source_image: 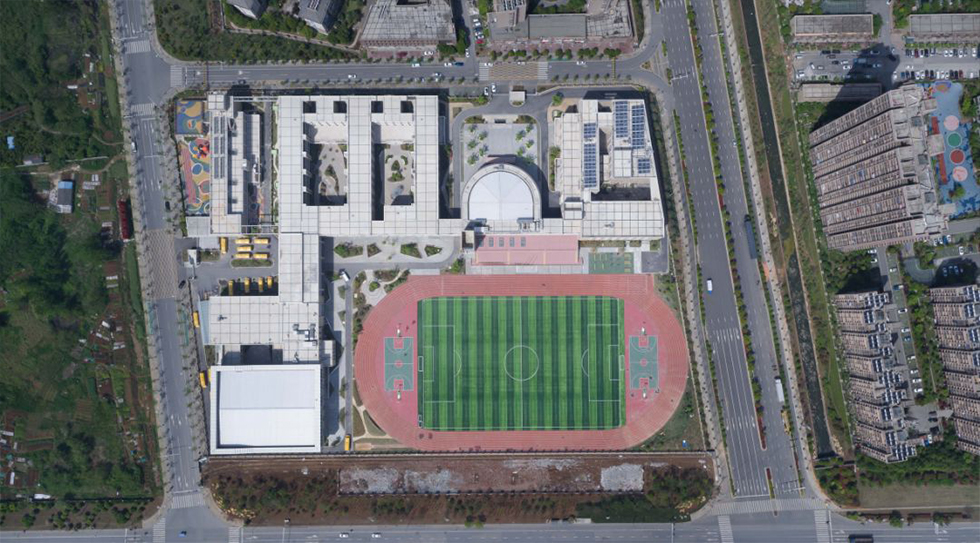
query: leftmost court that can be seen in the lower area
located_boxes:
[384,337,413,392]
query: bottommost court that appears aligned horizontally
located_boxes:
[589,253,633,273]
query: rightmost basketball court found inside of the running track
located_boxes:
[630,336,657,389]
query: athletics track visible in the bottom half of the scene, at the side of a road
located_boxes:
[355,274,687,450]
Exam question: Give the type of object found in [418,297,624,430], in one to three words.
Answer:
soccer field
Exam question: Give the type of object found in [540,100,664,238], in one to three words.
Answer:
building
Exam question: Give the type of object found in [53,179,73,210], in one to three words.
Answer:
shed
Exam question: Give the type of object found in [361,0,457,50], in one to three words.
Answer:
building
